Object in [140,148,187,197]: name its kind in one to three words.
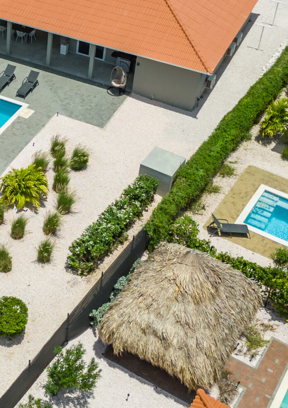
building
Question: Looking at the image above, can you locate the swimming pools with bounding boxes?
[0,97,27,134]
[262,364,288,408]
[236,184,288,243]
